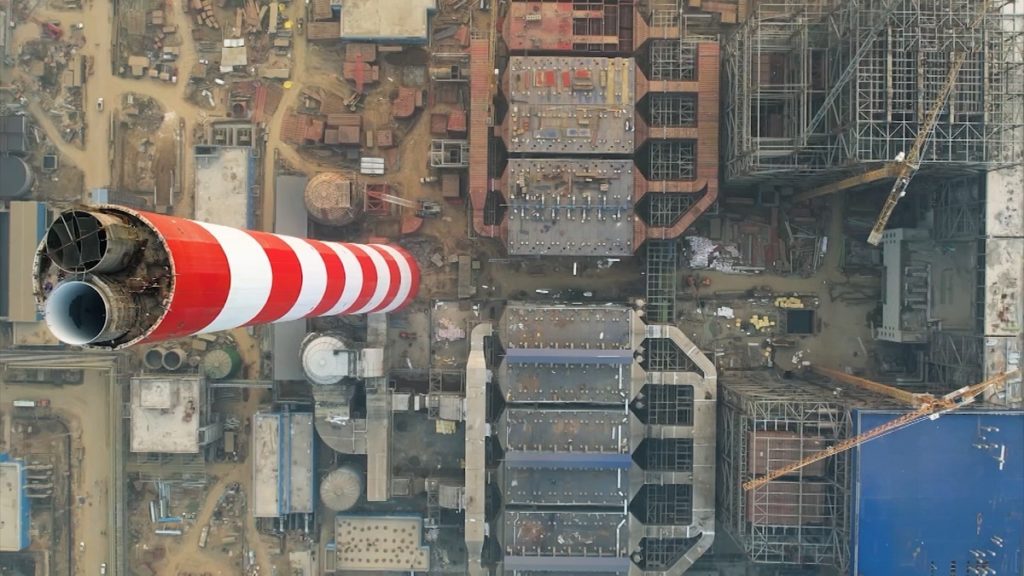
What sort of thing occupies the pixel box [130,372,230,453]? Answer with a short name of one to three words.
building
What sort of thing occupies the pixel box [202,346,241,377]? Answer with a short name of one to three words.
storage tank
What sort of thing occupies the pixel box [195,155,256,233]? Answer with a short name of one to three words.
building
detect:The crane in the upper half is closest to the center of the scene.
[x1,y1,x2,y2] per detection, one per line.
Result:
[358,197,439,215]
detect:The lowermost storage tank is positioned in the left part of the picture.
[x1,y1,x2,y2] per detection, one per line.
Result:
[319,462,366,510]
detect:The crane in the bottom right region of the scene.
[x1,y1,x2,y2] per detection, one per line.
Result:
[742,358,1024,491]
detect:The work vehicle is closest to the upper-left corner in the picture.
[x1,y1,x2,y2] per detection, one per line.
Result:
[36,20,59,35]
